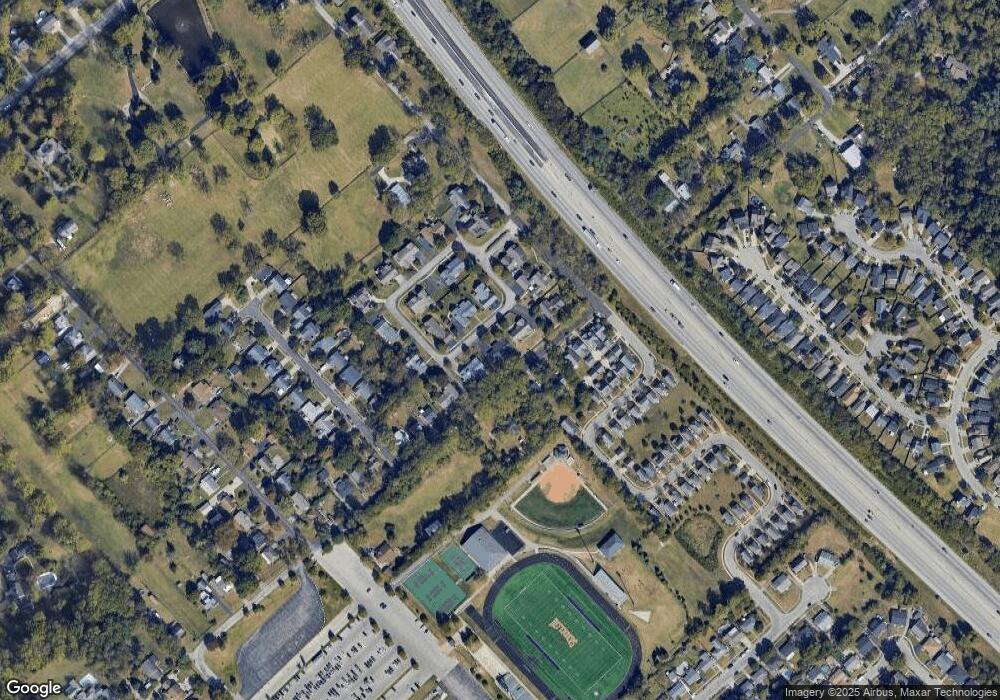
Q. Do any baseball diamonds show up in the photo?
Yes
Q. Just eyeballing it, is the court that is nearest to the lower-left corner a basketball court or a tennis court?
tennis court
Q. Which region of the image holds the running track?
bottom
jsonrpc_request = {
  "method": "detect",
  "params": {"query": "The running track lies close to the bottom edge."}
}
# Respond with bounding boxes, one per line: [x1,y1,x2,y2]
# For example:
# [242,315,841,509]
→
[463,553,642,700]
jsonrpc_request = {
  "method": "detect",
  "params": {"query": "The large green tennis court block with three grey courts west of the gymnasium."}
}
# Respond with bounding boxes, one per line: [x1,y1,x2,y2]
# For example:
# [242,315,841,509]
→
[404,560,466,614]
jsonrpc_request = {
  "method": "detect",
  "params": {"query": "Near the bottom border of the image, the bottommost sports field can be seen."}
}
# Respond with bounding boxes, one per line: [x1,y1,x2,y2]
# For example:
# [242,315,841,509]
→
[492,561,632,700]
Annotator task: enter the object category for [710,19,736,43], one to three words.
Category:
house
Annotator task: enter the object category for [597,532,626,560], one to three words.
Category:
building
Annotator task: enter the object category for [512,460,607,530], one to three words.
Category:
baseball field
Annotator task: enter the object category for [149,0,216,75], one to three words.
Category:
pond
